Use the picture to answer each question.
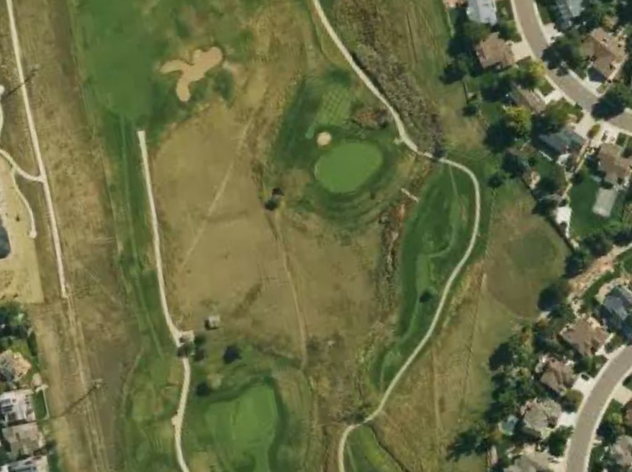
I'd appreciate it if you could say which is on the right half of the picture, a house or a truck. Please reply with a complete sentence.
There is a house on the right half of the picture.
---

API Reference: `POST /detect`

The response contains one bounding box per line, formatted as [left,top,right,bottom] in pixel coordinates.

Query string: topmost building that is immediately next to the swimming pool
[515,394,565,439]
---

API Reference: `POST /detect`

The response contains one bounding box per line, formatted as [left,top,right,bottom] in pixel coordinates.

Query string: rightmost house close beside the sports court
[593,145,632,188]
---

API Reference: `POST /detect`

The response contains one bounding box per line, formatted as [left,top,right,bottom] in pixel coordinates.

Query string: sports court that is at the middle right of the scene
[593,187,616,217]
